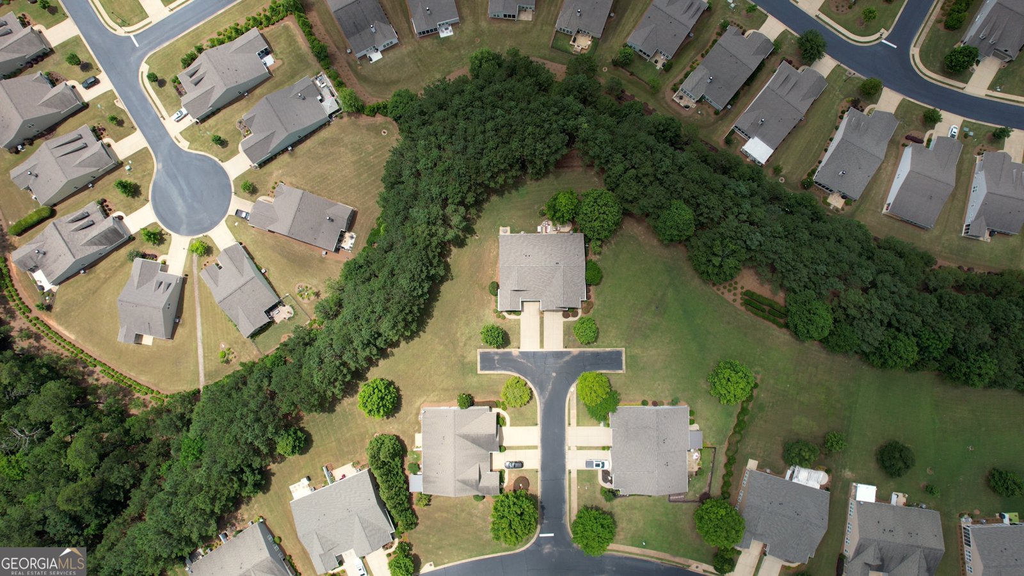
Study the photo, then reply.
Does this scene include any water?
No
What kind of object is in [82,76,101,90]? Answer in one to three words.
car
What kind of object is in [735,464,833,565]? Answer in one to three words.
house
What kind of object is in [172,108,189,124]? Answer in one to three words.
car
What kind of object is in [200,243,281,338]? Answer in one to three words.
house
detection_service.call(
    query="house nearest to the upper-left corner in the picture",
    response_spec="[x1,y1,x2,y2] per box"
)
[0,11,50,78]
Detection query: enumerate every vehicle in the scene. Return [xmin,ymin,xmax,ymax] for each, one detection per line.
[947,122,958,137]
[82,76,101,90]
[505,460,524,468]
[586,460,609,469]
[230,207,248,220]
[172,108,189,124]
[355,560,370,576]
